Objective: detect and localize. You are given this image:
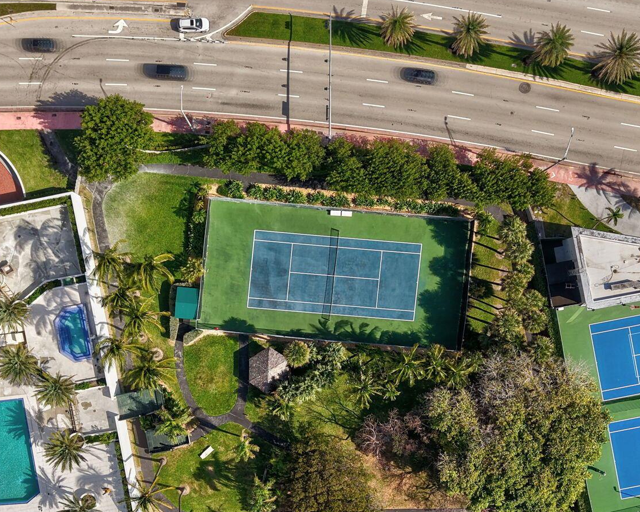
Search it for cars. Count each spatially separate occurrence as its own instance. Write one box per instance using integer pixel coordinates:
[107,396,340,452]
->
[147,63,185,81]
[23,37,56,54]
[177,17,211,34]
[401,68,435,86]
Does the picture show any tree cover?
Yes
